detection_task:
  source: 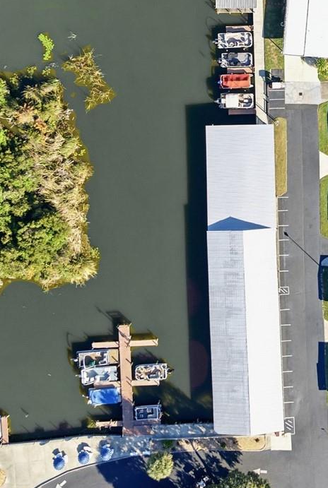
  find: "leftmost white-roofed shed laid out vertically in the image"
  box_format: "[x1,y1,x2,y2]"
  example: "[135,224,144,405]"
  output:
[205,124,284,435]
